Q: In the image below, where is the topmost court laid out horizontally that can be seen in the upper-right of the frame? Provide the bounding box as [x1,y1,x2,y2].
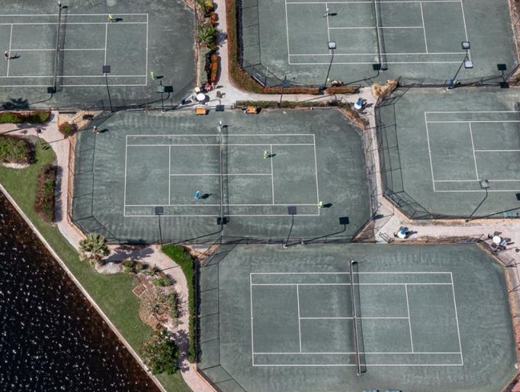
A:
[238,0,520,87]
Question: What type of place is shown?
sports ground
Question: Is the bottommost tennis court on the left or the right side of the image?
right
